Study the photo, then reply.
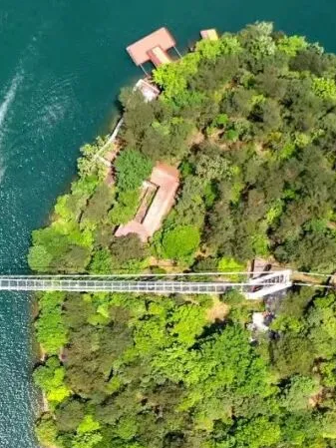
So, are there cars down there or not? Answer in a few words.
No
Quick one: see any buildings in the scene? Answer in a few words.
Yes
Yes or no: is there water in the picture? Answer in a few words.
Yes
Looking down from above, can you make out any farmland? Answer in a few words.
No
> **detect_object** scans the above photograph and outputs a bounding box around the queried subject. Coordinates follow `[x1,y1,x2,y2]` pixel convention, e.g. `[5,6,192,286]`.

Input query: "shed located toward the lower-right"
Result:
[243,316,271,336]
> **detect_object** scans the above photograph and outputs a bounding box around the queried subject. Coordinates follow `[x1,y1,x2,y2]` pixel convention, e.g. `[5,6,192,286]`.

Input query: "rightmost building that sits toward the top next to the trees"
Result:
[196,27,218,47]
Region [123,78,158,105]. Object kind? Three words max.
building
